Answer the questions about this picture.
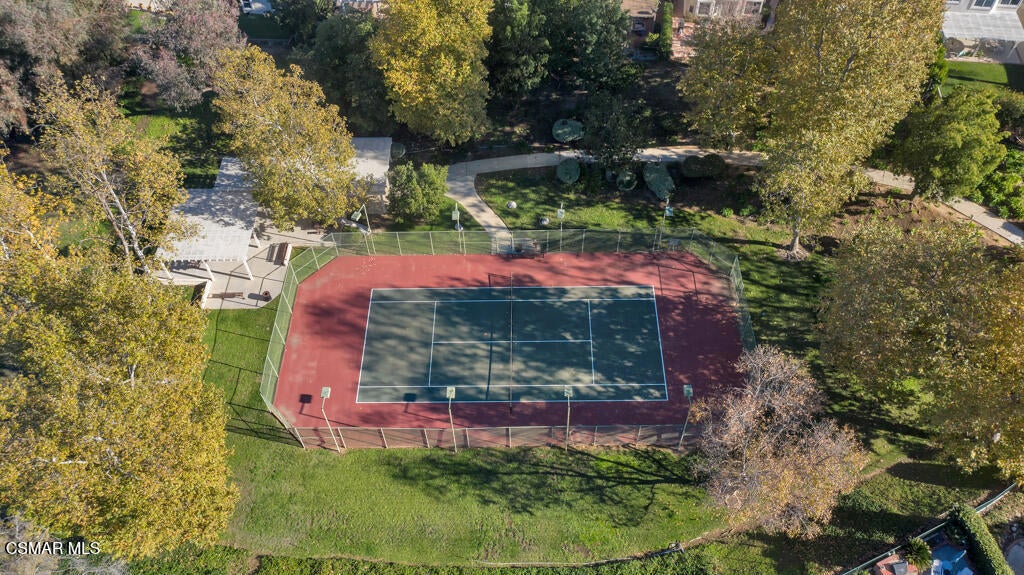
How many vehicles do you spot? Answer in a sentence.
There are no vehicles in the image.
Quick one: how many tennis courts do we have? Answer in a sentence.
The picture shows 1 tennis court.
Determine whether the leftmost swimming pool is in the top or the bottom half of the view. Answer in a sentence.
You can find the leftmost swimming pool in the bottom half.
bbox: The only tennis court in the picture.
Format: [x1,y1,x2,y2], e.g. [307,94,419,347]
[270,250,754,448]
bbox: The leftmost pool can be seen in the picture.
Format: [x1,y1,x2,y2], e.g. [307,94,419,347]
[926,535,976,575]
